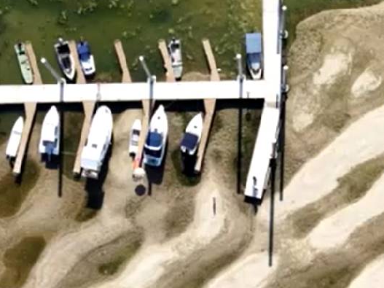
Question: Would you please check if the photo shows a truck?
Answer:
No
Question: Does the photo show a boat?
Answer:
Yes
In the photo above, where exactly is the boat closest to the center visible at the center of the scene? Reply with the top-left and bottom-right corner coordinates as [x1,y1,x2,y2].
[185,112,204,157]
